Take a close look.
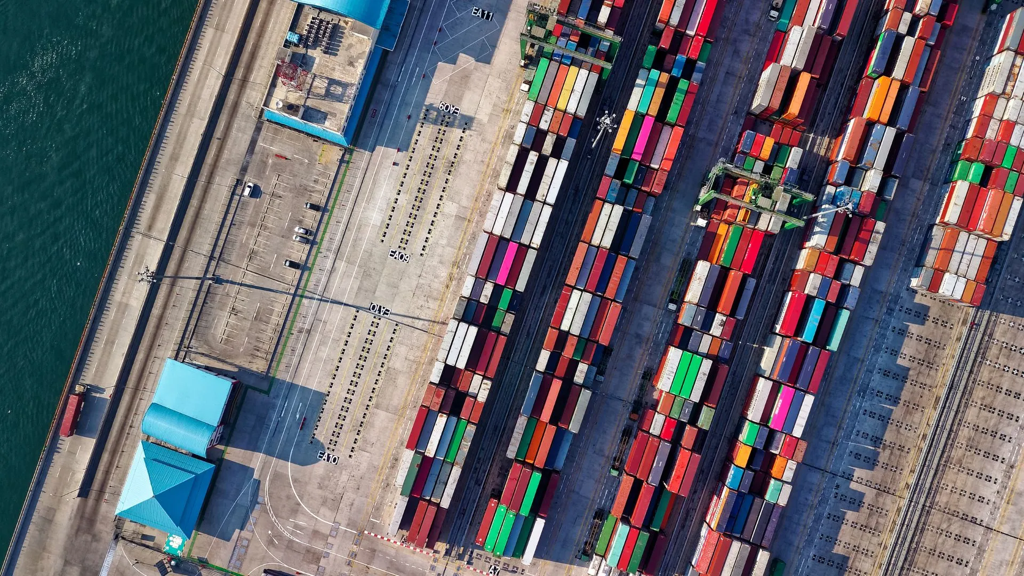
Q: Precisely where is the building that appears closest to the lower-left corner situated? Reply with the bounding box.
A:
[115,440,218,540]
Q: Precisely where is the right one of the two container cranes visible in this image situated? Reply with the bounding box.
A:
[689,156,821,236]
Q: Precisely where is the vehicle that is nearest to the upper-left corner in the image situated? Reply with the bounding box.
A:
[243,181,255,199]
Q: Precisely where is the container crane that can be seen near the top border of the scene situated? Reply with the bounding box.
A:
[514,1,628,97]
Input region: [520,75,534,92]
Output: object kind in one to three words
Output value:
vehicle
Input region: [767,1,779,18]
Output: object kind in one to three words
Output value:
vehicle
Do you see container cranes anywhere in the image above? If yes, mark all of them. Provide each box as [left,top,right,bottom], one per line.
[514,1,628,97]
[689,156,821,236]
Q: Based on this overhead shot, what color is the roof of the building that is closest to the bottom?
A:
blue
